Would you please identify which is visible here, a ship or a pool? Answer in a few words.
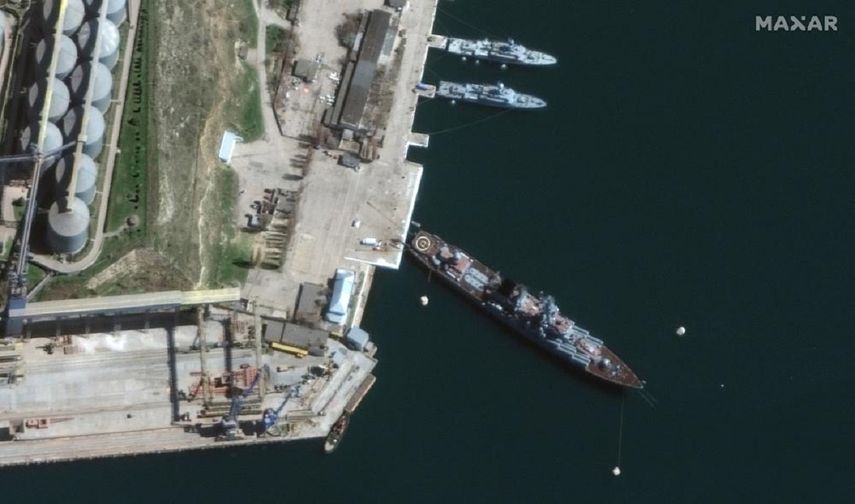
ship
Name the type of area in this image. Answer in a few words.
industrial area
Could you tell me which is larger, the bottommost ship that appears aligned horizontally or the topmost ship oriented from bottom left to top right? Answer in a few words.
the bottommost ship that appears aligned horizontally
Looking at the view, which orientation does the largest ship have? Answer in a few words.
diagonally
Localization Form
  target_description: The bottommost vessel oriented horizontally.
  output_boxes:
[438,81,547,108]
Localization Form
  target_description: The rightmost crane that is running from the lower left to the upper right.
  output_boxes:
[259,388,298,439]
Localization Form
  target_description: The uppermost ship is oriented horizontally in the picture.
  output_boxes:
[448,38,557,65]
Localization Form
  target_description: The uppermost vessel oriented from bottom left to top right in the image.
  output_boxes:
[346,373,377,413]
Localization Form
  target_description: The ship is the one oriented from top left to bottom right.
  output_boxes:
[403,226,656,408]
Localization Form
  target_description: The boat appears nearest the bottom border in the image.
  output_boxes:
[329,410,352,455]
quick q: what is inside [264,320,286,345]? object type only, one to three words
shed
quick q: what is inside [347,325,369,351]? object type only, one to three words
house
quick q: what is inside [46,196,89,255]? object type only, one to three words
silo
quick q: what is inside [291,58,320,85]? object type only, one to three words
building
